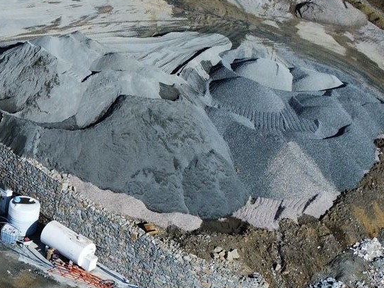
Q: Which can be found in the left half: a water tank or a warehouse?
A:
water tank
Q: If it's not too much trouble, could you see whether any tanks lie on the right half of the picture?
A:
No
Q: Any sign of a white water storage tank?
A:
Yes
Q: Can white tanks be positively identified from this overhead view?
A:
Yes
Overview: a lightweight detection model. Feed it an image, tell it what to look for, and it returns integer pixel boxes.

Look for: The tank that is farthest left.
[8,196,39,238]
